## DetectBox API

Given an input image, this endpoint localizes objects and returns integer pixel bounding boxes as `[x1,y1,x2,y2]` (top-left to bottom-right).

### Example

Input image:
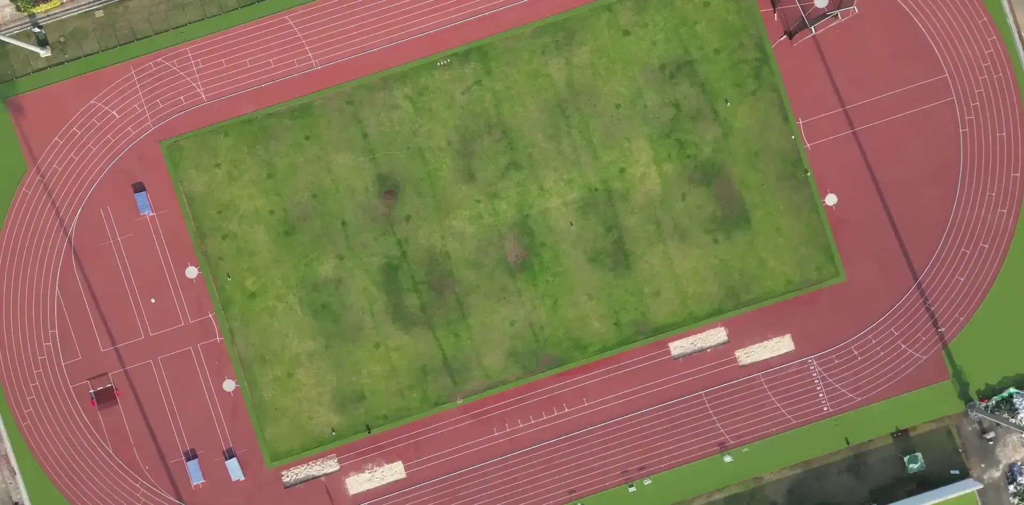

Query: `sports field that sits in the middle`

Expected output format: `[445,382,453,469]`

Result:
[159,0,847,469]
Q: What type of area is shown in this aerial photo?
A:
sports ground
